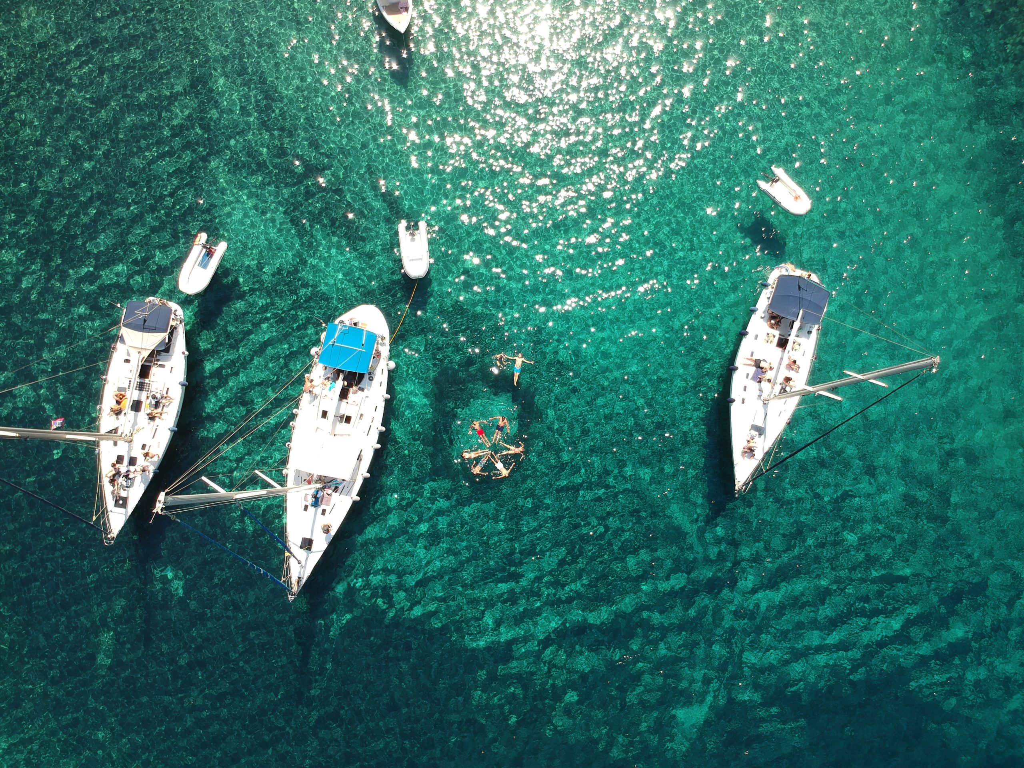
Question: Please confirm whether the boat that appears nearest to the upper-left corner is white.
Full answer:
Yes, the boat that appears nearest to the upper-left corner appears white.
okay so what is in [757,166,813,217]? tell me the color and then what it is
white boat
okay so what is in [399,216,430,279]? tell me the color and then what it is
white boat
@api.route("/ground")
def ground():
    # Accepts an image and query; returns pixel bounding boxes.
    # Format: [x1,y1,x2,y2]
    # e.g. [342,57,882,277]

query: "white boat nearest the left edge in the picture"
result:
[0,297,191,545]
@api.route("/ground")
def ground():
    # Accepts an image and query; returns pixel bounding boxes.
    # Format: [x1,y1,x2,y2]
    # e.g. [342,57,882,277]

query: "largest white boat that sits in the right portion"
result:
[729,260,947,497]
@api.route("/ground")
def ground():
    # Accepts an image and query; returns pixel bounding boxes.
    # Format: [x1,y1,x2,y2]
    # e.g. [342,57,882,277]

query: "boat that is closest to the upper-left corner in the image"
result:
[179,231,227,296]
